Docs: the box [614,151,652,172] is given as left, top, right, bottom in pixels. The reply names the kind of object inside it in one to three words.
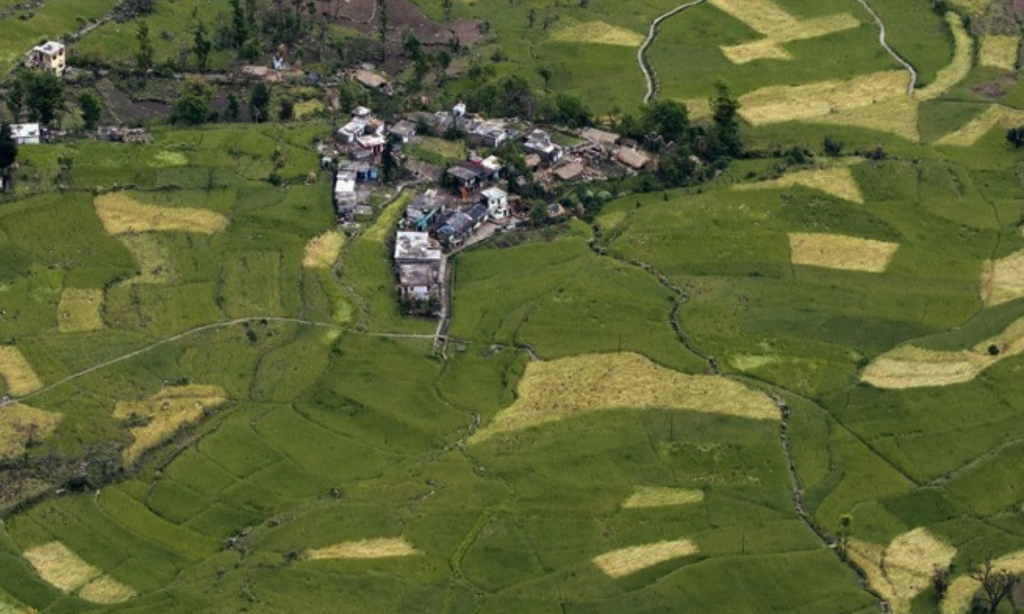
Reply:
shed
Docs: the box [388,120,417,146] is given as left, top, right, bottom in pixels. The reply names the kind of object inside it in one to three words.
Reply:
house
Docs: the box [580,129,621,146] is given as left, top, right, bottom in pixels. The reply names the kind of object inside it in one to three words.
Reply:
barn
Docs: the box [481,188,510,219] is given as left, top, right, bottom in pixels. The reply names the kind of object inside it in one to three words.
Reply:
house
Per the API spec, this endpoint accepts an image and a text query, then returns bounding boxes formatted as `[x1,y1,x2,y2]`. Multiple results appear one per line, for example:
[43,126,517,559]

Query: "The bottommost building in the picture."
[398,263,431,305]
